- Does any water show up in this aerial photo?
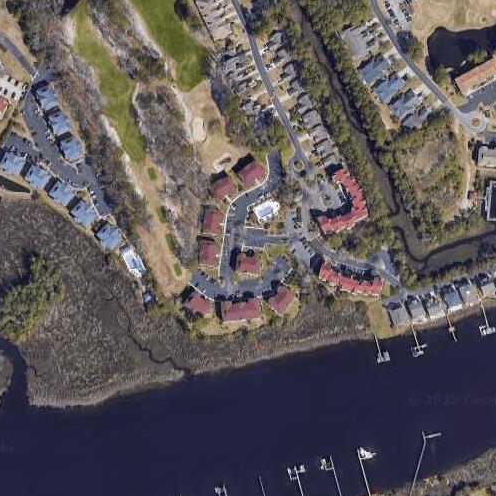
Yes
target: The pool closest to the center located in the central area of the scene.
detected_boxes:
[254,199,279,222]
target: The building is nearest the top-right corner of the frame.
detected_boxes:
[453,57,496,98]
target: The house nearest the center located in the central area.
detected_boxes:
[237,254,260,275]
